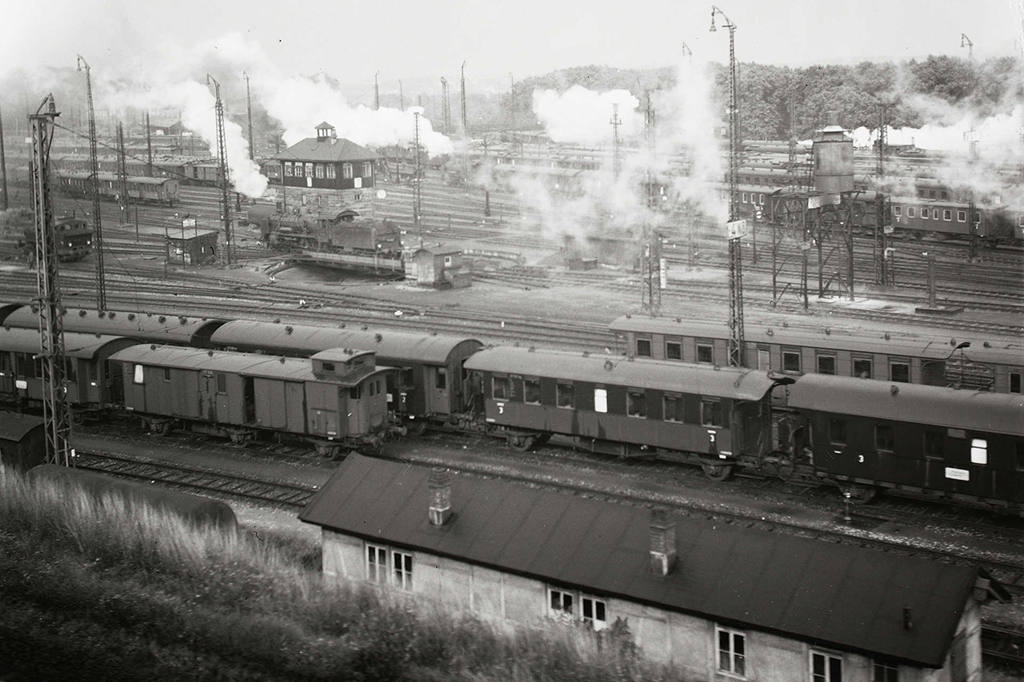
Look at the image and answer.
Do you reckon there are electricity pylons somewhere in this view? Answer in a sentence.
Yes, the frame does contain an electricity pylon.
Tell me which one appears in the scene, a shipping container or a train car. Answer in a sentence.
Visible in the photo is a train car.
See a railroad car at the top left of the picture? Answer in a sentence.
Yes, a railroad car shows up at the top left of the picture.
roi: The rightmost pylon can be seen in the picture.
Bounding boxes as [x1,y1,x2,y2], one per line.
[966,128,980,260]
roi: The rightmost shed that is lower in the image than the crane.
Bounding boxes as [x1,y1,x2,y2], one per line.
[299,451,1011,682]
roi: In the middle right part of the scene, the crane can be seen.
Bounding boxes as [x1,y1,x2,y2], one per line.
[904,247,970,318]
